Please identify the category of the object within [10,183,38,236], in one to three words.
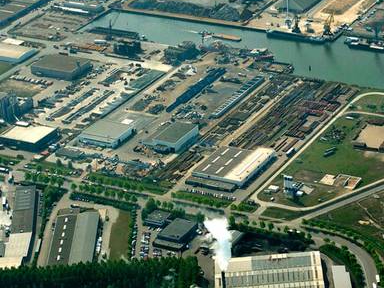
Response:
building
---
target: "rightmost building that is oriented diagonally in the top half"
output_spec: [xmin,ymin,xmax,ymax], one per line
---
[212,77,266,126]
